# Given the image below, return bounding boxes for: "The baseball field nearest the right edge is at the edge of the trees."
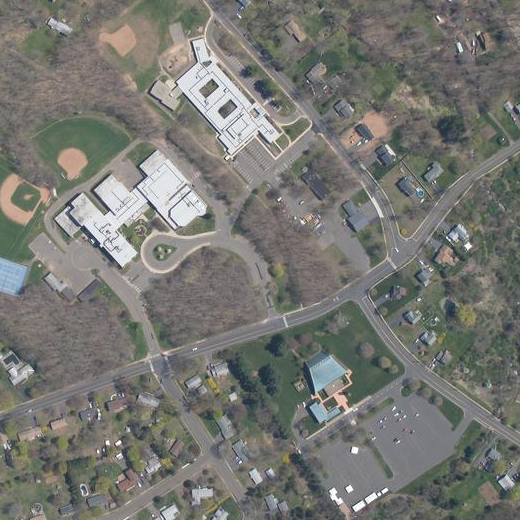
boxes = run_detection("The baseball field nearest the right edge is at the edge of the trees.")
[31,116,131,184]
